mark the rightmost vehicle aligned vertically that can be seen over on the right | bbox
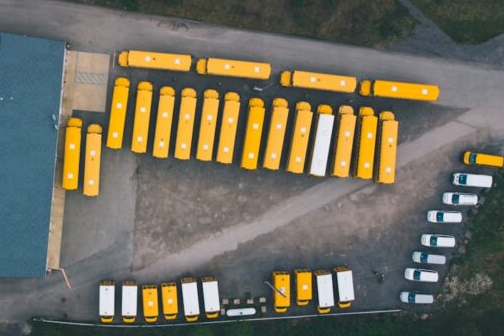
[372,110,398,184]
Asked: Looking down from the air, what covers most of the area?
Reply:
paved ground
